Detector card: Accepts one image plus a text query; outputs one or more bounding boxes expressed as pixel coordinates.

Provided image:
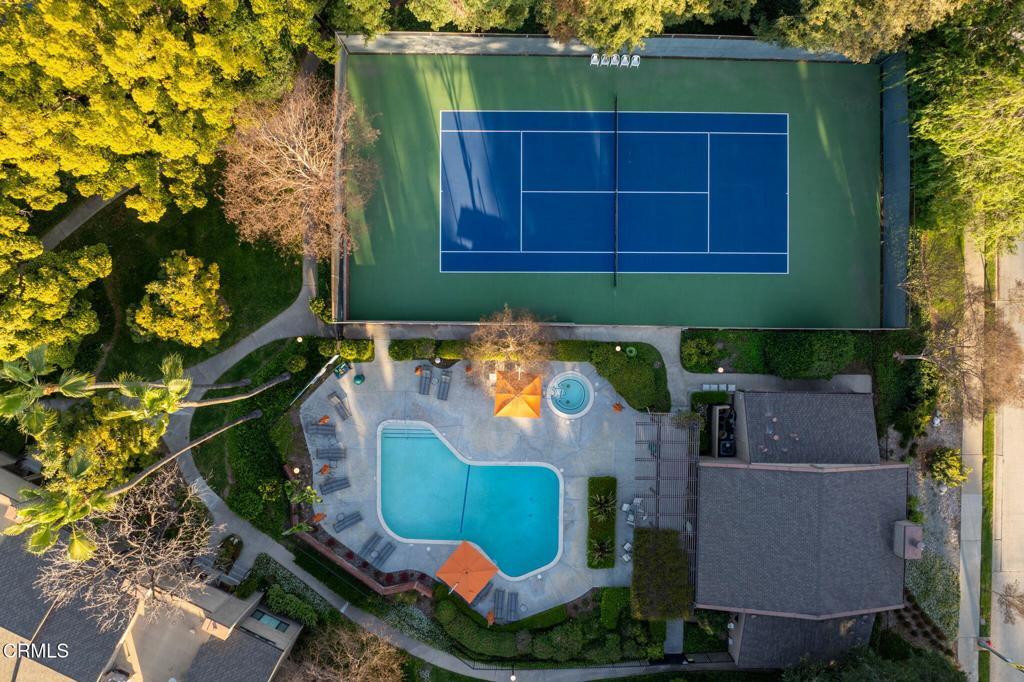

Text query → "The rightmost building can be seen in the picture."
[694,390,928,664]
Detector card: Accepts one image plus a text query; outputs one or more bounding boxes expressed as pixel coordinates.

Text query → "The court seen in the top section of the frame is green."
[347,55,881,328]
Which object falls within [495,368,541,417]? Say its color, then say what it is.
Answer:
orange umbrella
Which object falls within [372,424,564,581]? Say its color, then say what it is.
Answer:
blue swimming pool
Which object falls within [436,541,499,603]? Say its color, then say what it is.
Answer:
orange umbrella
